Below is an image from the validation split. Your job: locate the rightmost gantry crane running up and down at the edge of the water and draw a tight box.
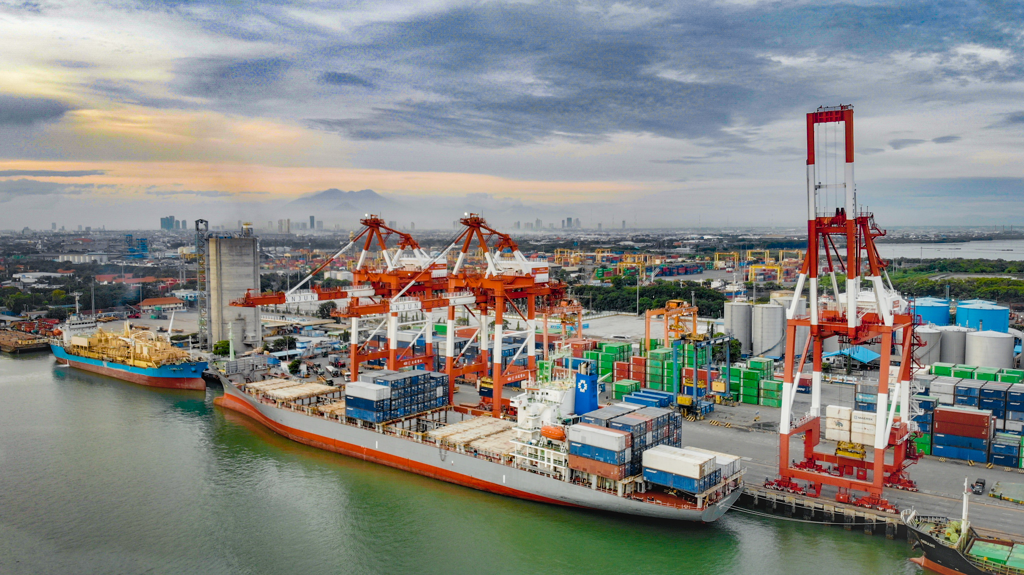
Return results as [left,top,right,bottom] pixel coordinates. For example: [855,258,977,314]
[759,98,927,513]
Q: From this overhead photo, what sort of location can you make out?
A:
port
